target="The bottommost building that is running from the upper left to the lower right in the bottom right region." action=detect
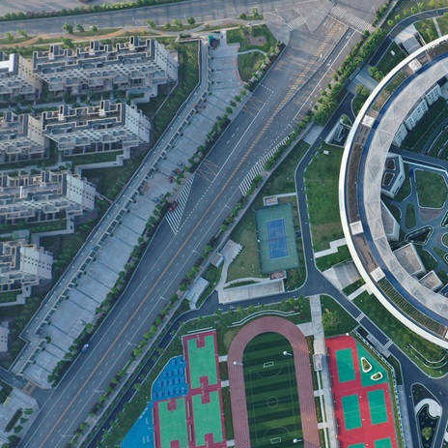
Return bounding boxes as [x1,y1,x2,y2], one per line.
[358,332,391,358]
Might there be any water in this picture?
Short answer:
No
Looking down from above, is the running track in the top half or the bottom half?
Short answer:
bottom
